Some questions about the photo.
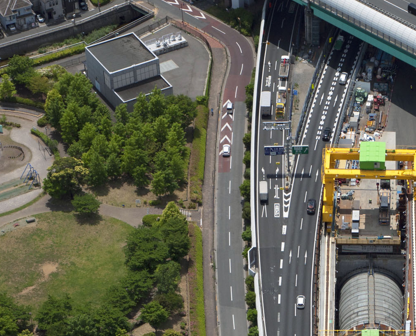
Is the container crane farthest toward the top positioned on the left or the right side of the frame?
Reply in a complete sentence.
It is on the right.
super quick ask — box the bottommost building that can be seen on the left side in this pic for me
[90,31,173,115]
